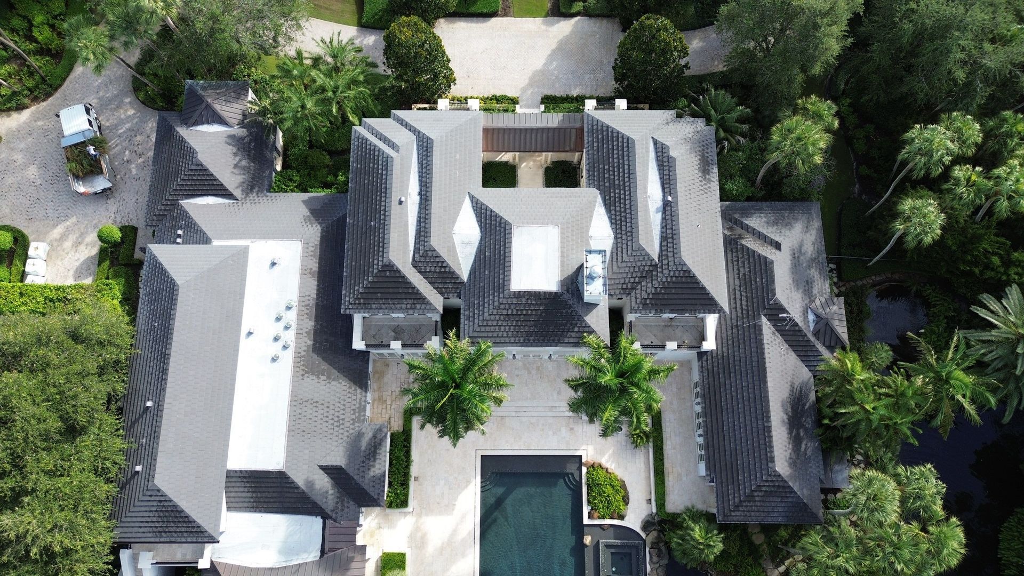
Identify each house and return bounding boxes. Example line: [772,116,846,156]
[109,79,848,576]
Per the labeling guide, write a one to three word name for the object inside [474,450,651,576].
swimming pool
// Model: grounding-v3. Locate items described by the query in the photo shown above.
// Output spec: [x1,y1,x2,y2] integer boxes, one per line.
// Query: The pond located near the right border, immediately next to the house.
[858,282,1024,576]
